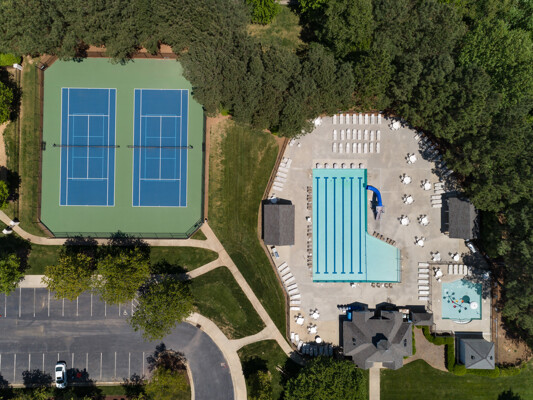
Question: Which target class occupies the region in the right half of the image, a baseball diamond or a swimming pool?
swimming pool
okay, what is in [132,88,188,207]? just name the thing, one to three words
tennis court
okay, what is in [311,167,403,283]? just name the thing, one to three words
swimming pool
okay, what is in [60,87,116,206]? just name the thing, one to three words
tennis court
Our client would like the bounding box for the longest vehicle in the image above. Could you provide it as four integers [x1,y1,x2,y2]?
[52,363,66,389]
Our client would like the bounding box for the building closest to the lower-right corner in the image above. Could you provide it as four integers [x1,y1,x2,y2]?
[460,336,496,370]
